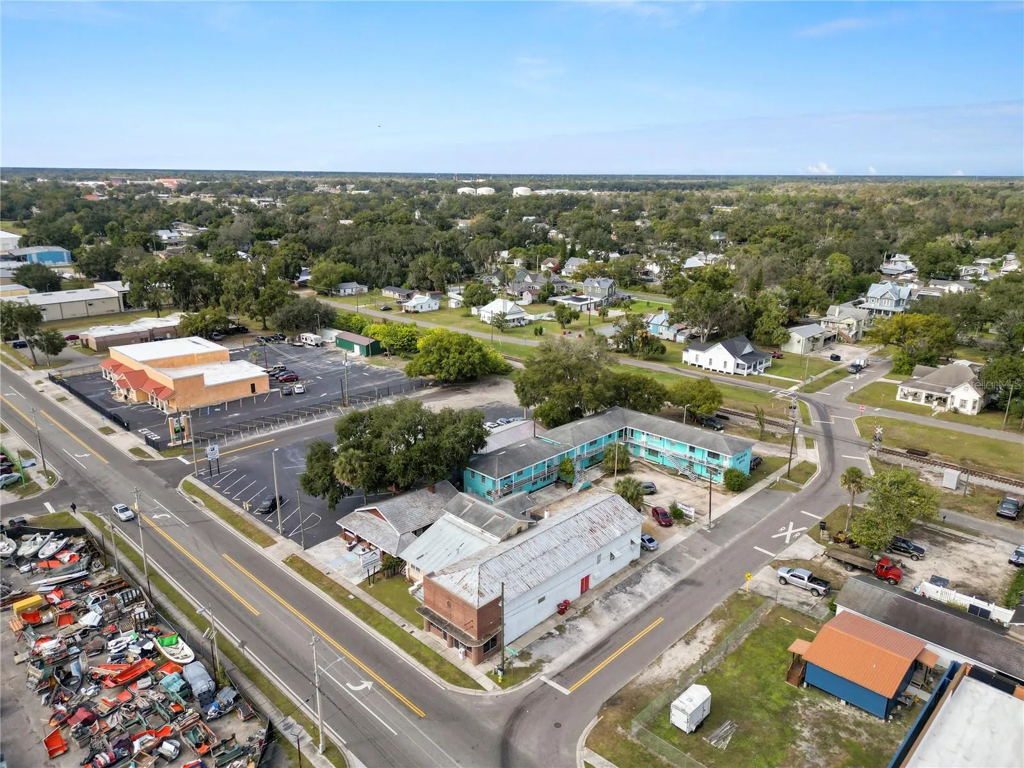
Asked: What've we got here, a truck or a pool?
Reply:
truck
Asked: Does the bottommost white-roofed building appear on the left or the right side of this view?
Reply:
right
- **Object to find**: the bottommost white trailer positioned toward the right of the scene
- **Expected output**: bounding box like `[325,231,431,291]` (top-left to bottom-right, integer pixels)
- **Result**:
[675,682,708,728]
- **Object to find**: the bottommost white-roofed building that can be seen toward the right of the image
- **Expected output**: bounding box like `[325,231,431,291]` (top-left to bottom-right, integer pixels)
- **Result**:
[898,662,1024,768]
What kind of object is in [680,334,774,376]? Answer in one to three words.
house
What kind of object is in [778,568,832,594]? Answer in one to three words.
truck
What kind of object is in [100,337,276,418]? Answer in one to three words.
building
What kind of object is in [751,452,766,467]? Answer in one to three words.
car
